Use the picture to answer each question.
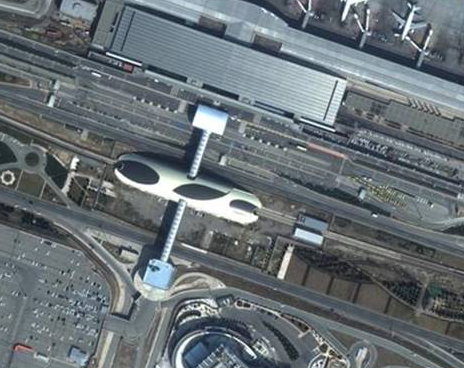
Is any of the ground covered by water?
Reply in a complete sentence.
No, there's no water in this view.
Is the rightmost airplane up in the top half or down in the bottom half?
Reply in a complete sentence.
The rightmost airplane sits in the top half of the picture.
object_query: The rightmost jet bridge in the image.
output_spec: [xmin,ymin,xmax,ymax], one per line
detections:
[405,29,434,67]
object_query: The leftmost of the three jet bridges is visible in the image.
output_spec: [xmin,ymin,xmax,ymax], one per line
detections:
[297,0,314,29]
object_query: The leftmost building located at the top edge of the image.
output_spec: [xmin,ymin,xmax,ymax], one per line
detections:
[59,0,99,23]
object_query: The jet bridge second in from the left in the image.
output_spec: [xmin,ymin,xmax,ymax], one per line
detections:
[354,9,372,49]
